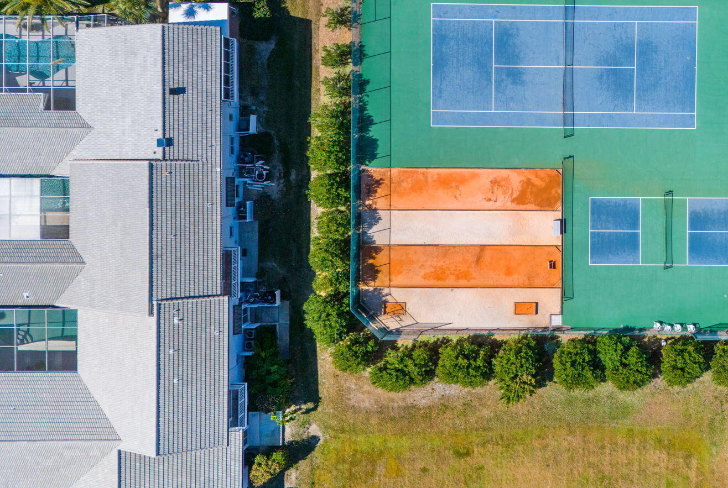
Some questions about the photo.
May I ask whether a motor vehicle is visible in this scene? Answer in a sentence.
No, no motor vehicle can be seen from above.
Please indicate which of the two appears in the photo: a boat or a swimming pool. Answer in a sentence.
Visible in the photo is a swimming pool.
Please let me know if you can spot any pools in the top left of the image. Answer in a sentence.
Yes, I can see a pool in the top left of the image.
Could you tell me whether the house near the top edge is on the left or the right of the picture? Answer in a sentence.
The house near the top edge sits on the left side.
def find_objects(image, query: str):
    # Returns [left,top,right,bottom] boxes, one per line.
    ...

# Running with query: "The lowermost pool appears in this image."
[41,184,69,219]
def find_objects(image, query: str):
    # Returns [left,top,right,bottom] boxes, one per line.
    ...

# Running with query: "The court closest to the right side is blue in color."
[589,197,728,267]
